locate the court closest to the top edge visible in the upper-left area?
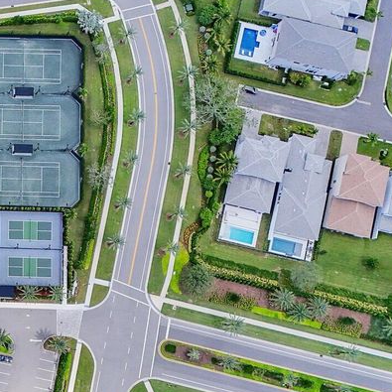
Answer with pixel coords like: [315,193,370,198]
[0,37,83,93]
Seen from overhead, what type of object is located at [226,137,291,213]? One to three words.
house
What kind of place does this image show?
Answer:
residential area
